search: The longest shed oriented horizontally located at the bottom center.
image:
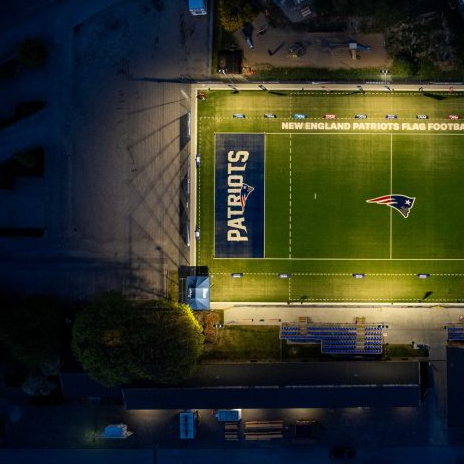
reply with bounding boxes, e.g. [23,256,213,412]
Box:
[119,361,427,408]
